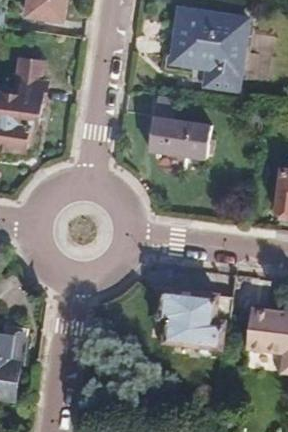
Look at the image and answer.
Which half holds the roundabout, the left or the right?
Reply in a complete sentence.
The roundabout is on the left side of the image.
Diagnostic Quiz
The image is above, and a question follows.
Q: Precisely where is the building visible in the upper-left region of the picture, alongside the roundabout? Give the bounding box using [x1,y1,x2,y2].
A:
[0,58,49,155]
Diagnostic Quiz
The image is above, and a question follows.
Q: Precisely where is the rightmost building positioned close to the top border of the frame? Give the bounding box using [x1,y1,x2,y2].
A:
[168,6,252,94]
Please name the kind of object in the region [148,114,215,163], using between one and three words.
house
